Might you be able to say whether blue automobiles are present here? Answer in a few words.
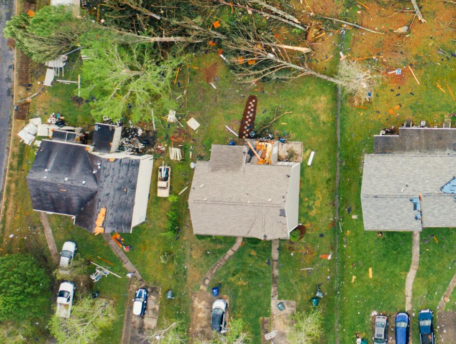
Yes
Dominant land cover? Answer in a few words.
grass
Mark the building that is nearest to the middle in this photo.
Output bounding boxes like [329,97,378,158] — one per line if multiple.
[185,140,301,242]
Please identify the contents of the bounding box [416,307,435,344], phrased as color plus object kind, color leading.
blue vehicle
